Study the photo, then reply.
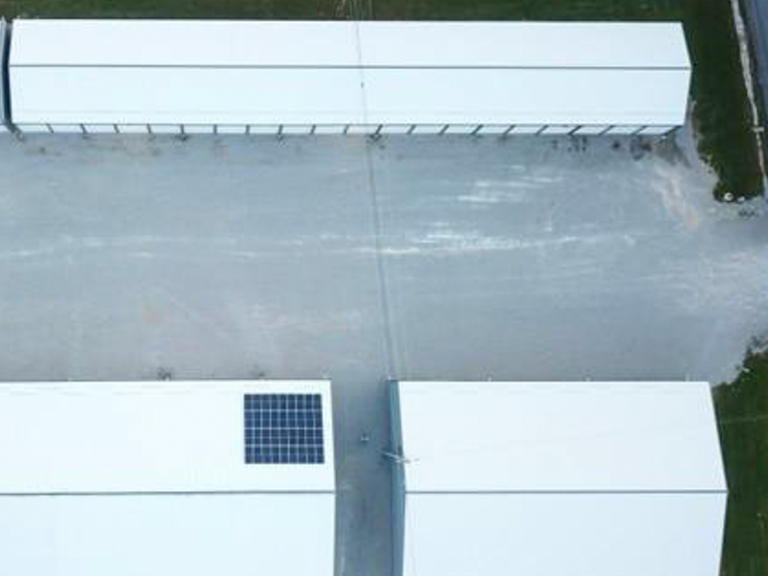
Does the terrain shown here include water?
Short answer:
No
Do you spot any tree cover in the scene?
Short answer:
No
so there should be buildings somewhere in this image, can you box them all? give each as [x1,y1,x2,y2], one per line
[391,379,727,576]
[8,18,690,139]
[0,379,336,576]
